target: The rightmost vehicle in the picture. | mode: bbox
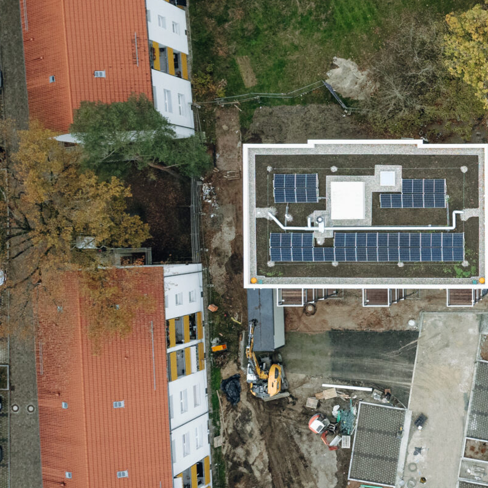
[309,415,341,455]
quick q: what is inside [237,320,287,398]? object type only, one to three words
work vehicle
